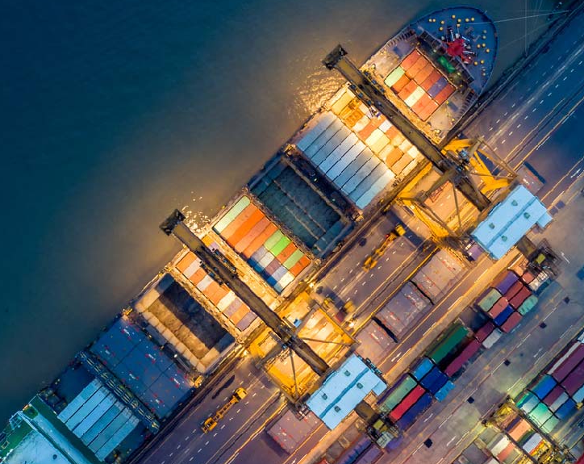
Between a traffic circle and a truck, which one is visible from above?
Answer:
truck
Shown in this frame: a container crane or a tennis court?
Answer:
container crane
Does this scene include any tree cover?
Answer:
No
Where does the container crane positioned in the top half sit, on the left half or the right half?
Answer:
right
